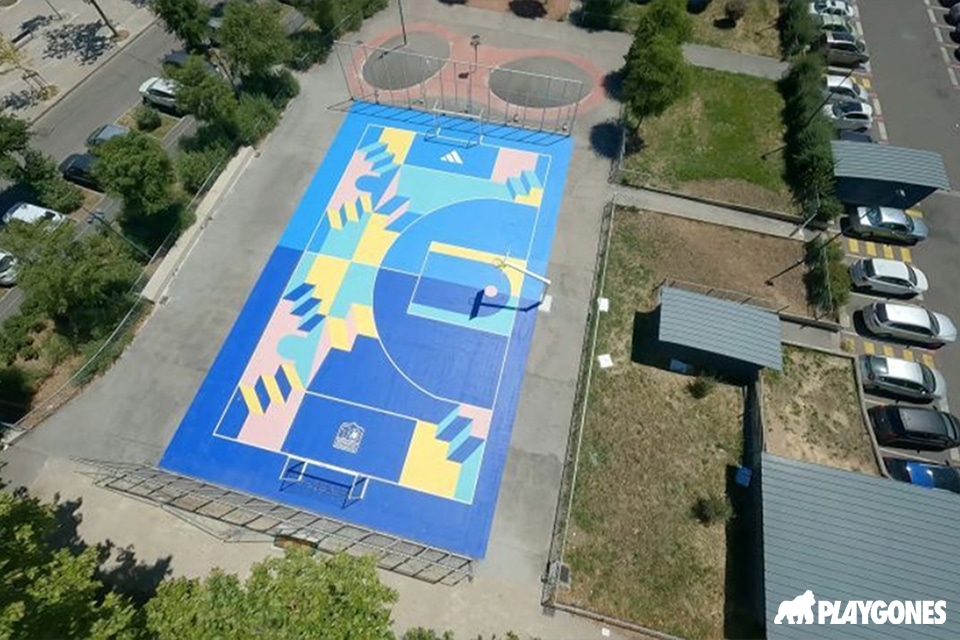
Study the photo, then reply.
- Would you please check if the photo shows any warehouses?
No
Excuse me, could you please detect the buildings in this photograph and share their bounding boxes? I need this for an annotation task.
[649,287,782,375]
[818,138,952,213]
[757,456,960,640]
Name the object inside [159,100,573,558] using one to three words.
sports court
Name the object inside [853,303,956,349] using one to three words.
car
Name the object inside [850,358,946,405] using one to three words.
car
